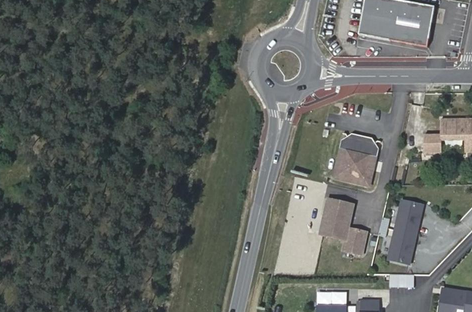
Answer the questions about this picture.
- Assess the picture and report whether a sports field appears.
No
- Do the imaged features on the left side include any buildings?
No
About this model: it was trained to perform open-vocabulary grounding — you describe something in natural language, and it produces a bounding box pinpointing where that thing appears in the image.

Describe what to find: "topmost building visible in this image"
[358,0,435,49]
